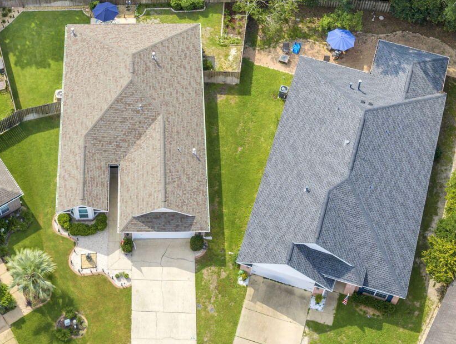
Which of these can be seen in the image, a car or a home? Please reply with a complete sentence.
There is a home in the scene.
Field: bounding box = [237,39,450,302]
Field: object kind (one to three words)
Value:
house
